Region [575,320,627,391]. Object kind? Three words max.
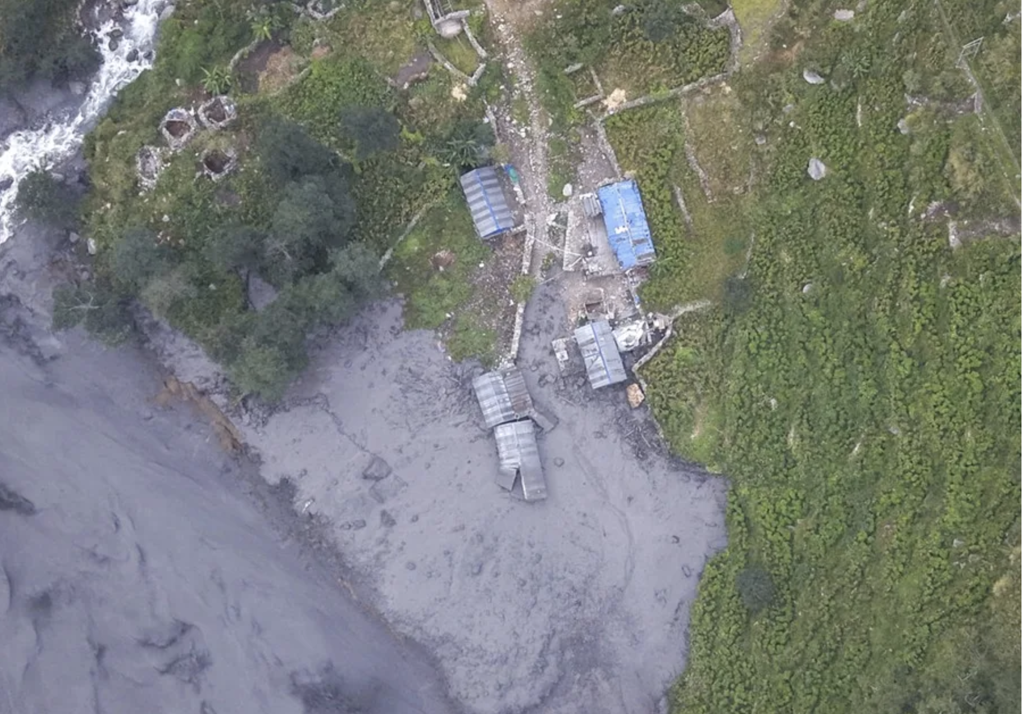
shed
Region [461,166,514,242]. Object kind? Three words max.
shed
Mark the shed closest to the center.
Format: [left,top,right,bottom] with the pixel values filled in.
[472,369,533,429]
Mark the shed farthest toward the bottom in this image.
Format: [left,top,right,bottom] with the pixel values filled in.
[494,421,546,500]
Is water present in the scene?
Yes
